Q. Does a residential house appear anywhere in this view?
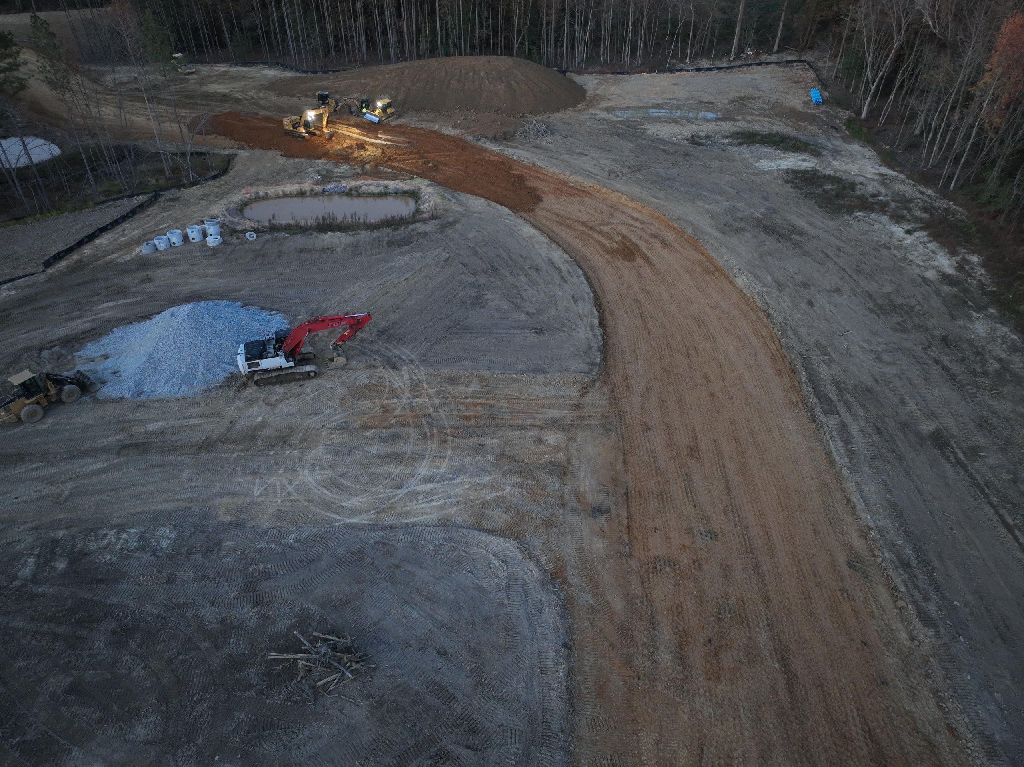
No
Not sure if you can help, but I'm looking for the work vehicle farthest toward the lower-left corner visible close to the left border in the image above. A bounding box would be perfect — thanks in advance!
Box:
[0,365,109,430]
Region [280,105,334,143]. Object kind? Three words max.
work vehicle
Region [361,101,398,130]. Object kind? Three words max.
work vehicle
